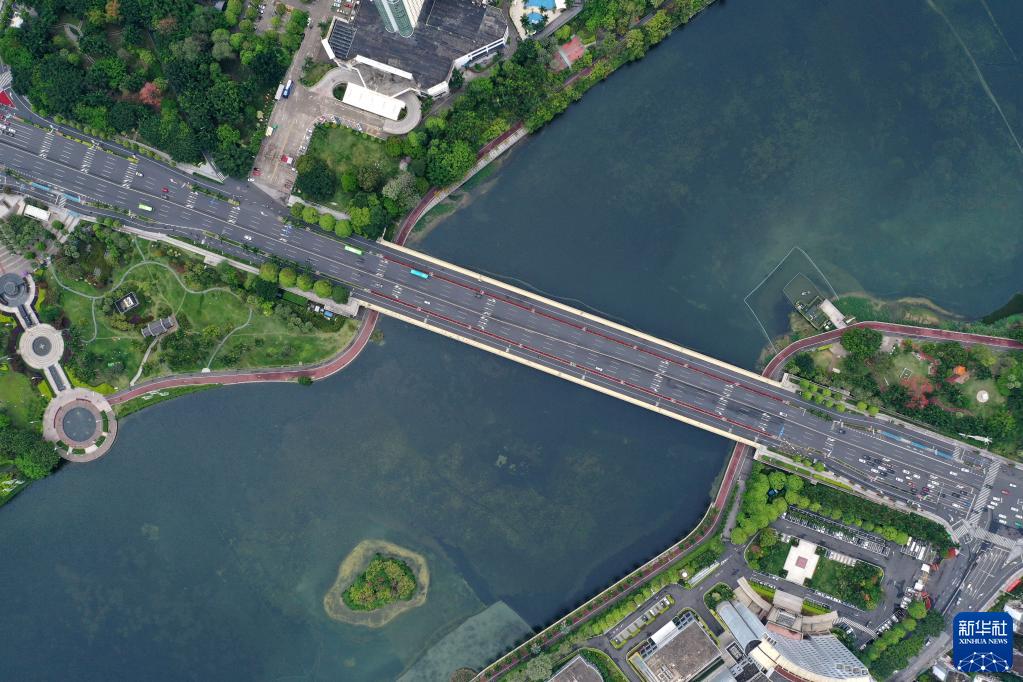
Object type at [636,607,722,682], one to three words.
building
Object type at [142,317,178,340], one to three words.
house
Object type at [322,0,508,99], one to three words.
building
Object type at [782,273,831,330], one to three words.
pier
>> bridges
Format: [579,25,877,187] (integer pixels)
[355,240,797,449]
